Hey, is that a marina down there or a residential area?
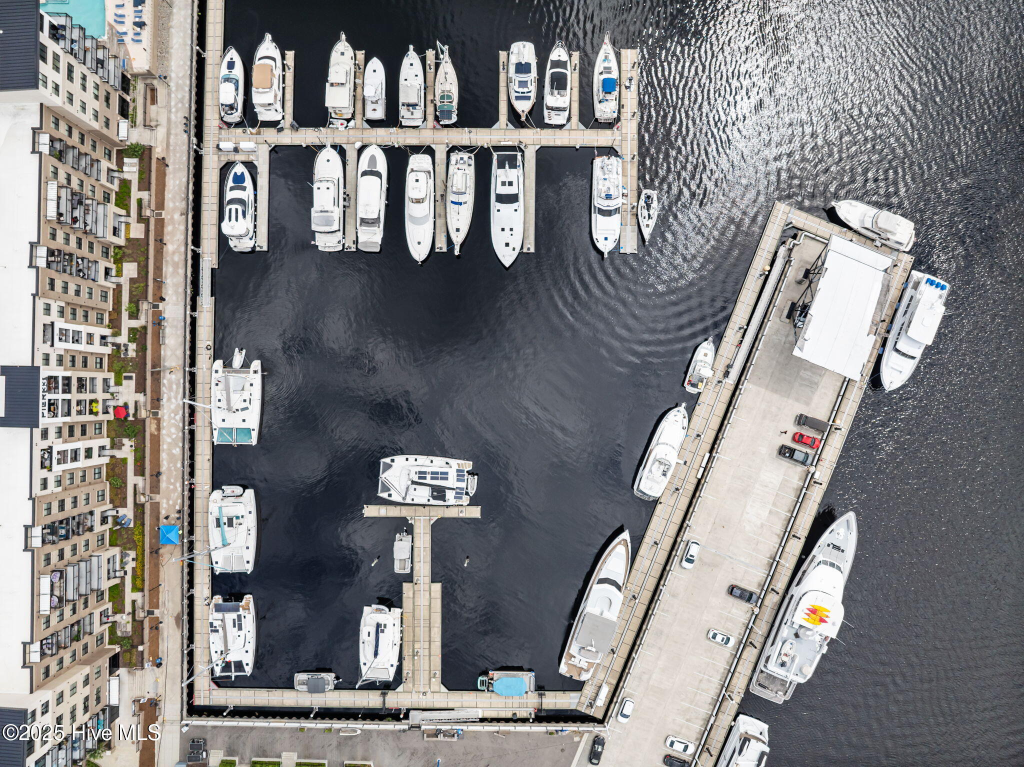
marina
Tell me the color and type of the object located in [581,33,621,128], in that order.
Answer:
white boat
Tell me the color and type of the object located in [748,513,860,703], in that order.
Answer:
white vessel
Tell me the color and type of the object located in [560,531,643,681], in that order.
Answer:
white boat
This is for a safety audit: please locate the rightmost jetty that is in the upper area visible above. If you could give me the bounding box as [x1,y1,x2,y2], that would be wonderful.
[789,211,914,266]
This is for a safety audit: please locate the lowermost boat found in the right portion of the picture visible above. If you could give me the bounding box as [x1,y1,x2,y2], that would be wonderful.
[716,712,770,767]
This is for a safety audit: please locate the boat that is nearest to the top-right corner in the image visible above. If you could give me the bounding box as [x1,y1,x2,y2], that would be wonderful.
[833,197,916,251]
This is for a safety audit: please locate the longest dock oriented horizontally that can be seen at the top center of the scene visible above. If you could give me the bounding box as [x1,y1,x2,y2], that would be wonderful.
[219,119,621,154]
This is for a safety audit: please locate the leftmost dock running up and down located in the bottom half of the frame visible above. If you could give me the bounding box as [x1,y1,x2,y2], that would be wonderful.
[194,296,216,705]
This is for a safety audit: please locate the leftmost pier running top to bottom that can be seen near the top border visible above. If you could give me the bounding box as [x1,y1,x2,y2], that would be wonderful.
[200,0,226,269]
